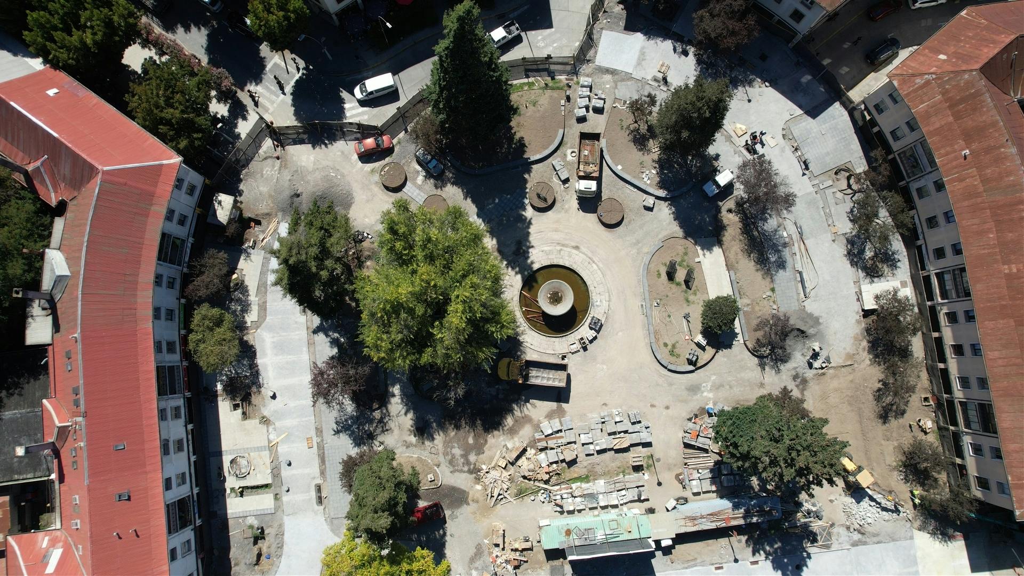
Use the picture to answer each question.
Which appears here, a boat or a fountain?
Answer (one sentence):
Visible in the photo is a fountain.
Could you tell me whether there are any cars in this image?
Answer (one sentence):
Yes, I can see a car in this picture.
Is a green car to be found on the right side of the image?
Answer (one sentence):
No, on the right side of the image there is no green car.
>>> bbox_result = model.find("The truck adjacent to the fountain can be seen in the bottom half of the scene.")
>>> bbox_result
[497,356,571,387]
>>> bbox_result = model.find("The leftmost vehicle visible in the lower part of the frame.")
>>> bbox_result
[404,502,450,529]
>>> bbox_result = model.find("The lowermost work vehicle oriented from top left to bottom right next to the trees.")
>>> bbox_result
[832,440,908,510]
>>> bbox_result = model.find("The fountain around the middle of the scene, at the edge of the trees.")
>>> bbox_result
[518,263,592,337]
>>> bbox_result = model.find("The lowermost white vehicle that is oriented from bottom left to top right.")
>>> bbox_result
[704,165,740,196]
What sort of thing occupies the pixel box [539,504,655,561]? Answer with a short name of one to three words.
shed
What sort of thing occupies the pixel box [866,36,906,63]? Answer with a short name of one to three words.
car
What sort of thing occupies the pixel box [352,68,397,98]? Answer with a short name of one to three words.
van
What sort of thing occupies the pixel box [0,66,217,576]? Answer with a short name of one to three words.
building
